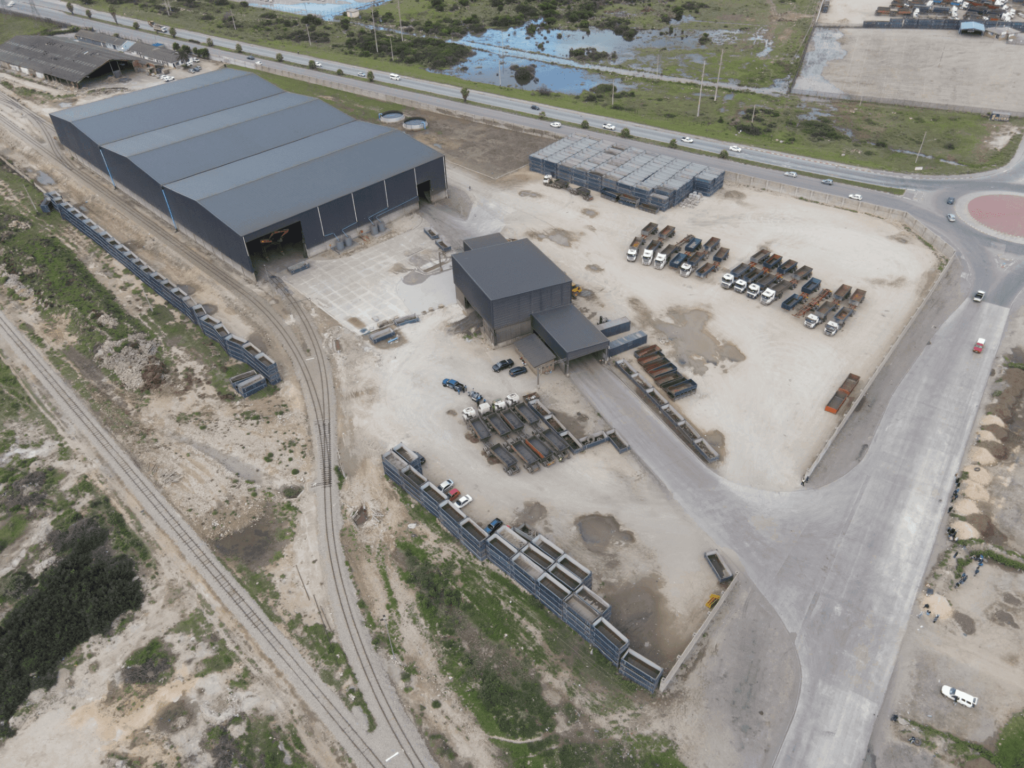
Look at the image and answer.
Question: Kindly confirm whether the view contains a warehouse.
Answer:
Yes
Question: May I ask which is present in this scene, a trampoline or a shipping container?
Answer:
shipping container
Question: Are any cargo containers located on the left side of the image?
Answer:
No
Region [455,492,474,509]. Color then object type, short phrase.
white car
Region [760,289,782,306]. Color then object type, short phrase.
white vehicle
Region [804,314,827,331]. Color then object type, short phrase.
white vehicle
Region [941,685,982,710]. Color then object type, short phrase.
white truck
